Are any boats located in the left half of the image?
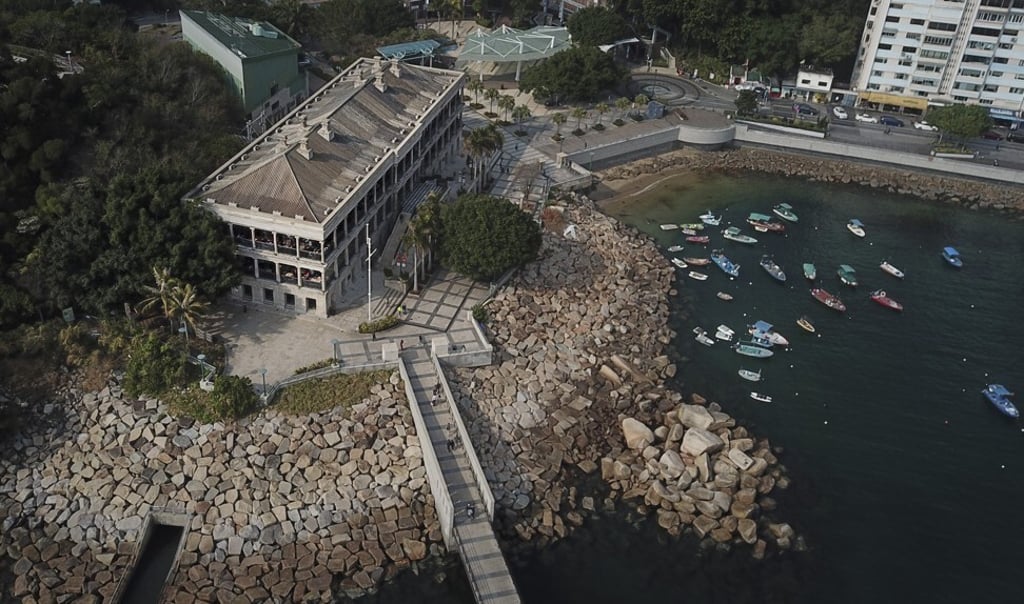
No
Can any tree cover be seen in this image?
Yes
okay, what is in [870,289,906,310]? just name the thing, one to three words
boat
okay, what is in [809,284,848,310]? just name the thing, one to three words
boat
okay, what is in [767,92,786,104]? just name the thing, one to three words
vehicle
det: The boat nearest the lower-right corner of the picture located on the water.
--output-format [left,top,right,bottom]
[979,384,1020,417]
